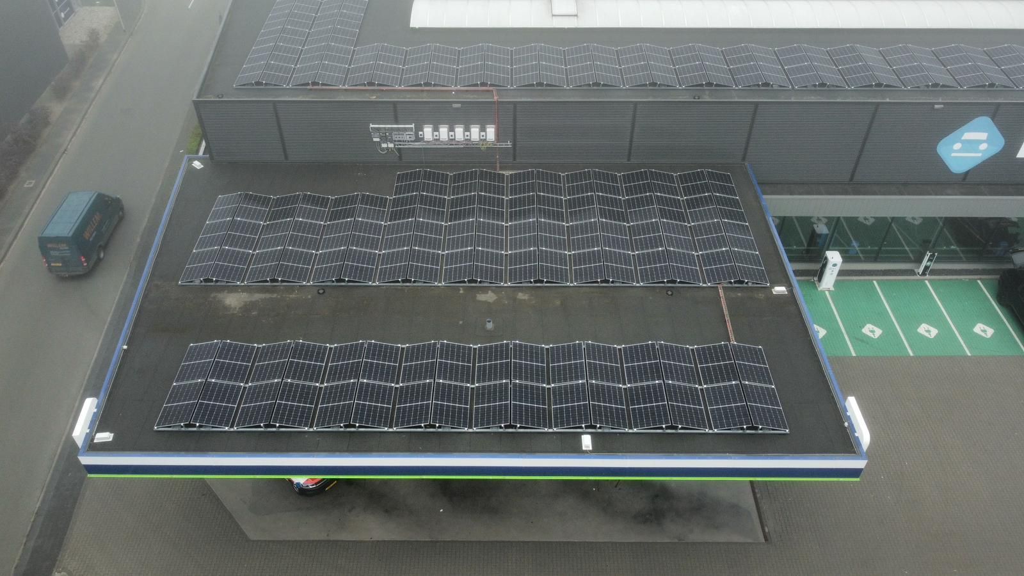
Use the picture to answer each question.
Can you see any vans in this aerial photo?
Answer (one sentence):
Yes, a van is visible in the scene.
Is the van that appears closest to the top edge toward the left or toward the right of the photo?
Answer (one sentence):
The van that appears closest to the top edge is on the left side of the image.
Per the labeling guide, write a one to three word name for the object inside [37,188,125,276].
van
